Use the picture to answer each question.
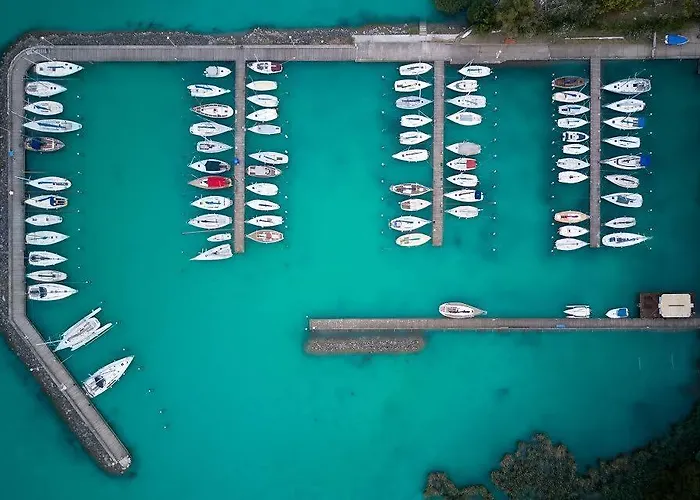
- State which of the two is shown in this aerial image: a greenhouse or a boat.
boat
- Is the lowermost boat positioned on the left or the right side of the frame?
left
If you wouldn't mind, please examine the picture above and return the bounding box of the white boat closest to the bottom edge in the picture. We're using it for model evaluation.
[75,352,138,403]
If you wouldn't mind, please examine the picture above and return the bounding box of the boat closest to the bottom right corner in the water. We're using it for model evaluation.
[604,305,631,319]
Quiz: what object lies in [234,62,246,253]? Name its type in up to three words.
pier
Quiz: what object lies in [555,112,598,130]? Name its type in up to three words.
boat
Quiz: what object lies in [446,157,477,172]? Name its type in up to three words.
boat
